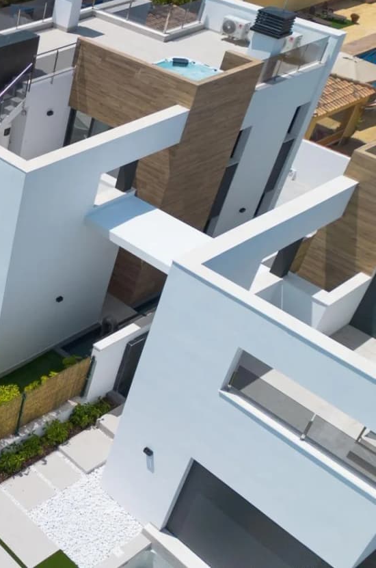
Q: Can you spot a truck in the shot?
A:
No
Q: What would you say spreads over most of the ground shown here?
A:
buildings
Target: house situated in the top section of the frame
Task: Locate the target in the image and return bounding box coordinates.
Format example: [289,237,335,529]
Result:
[0,0,356,380]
